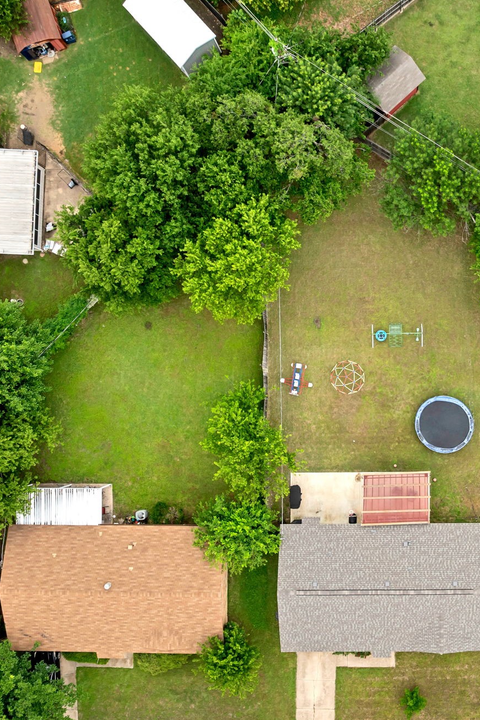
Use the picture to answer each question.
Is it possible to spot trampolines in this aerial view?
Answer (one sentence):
Yes, a trampoline is visible in the scene.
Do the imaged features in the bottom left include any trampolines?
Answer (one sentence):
No, the scene shows no trampoline in the bottom left.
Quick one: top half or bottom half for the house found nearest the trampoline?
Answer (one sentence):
The house found nearest the trampoline sits in the bottom half of the picture.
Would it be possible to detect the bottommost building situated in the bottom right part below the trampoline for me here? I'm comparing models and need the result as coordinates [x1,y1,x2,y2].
[275,517,480,657]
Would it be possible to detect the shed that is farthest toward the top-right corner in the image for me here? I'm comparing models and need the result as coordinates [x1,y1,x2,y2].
[361,45,426,120]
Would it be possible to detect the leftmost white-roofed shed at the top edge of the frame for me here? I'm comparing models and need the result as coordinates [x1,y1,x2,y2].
[121,0,216,77]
